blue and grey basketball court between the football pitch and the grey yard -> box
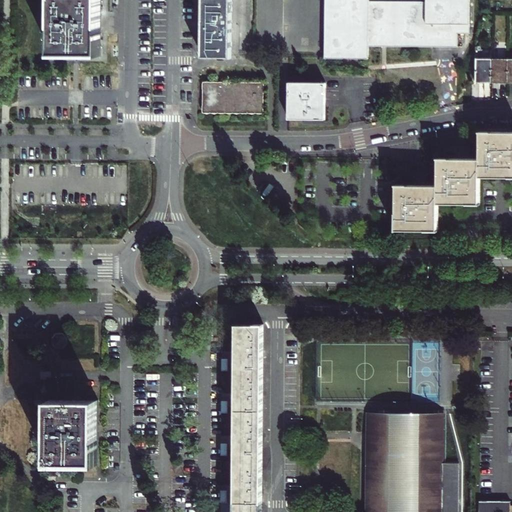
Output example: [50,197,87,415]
[412,341,440,404]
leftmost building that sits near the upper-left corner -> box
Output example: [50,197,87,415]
[41,0,100,60]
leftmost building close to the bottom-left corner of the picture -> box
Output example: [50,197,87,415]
[37,401,98,472]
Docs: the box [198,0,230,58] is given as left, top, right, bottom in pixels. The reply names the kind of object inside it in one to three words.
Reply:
building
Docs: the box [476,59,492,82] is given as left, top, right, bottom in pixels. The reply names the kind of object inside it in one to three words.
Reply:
house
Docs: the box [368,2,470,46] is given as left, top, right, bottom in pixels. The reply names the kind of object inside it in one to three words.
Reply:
building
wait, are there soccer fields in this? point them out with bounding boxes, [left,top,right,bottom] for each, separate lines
[316,340,411,402]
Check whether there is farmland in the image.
No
